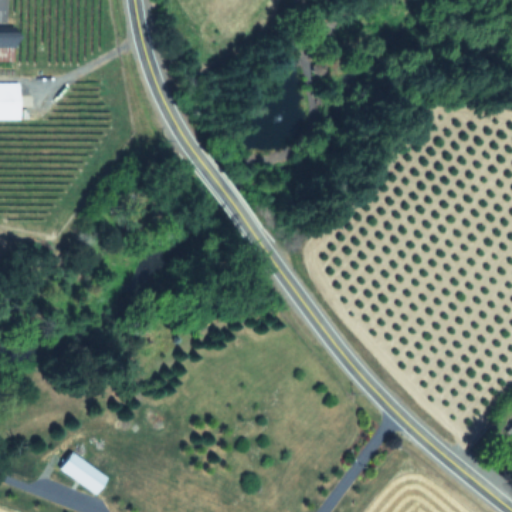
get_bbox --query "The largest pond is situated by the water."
[240,80,306,149]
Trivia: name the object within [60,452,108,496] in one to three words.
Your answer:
house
